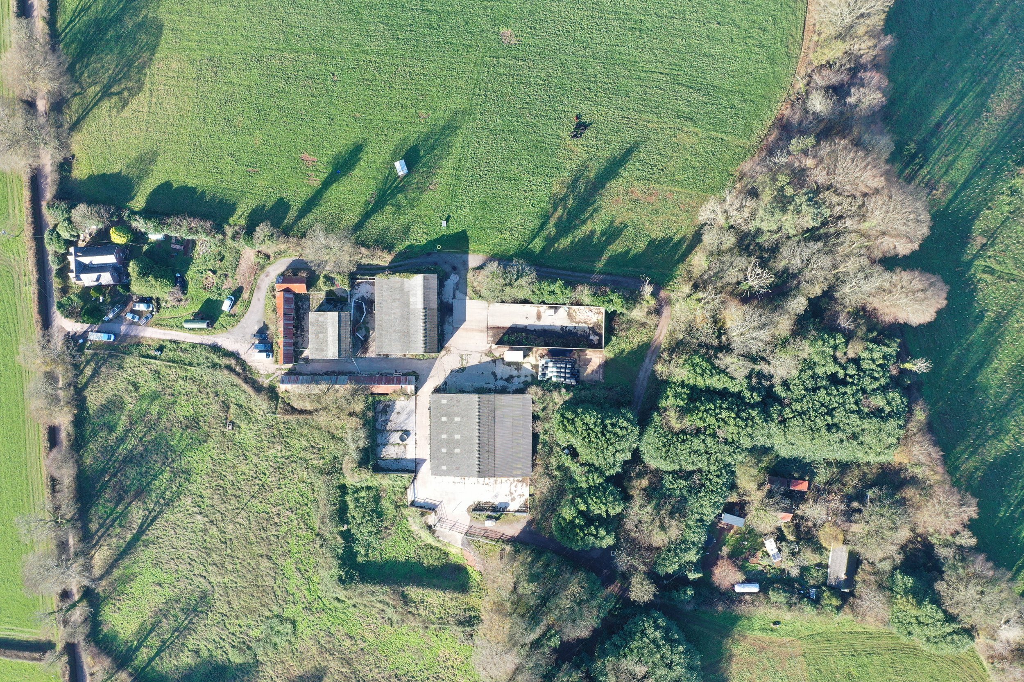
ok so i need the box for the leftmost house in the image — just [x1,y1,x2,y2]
[64,245,132,286]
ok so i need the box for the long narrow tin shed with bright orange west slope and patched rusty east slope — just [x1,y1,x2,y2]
[276,291,295,364]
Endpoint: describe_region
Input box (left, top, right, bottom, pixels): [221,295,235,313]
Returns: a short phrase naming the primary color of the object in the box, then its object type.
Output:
white vehicle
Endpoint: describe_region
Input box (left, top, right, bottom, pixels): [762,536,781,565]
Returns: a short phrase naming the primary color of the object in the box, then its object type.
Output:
white camper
